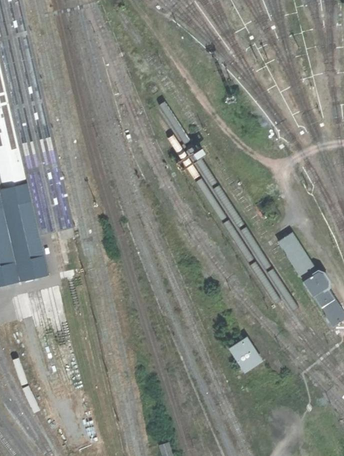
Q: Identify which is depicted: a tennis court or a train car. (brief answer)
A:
train car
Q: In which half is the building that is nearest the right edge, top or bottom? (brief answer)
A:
bottom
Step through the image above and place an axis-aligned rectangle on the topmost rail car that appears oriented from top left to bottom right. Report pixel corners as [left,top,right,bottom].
[160,100,190,144]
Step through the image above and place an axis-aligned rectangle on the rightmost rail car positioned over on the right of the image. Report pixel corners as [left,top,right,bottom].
[268,268,298,312]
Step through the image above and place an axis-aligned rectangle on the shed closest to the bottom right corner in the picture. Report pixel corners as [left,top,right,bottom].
[230,337,264,374]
